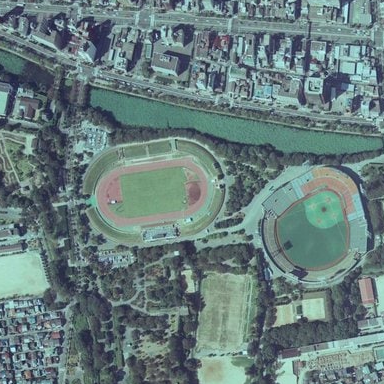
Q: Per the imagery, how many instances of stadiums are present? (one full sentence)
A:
The count of stadiums comes to 2.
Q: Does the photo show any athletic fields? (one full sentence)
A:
Yes, the frame does contain an athletic field.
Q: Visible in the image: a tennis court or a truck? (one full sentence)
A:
I can see a tennis court in this picture.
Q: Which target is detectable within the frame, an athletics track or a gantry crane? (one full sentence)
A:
The one in the frame is an athletics track.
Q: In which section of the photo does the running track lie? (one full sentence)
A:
The running track is in the center part of the image.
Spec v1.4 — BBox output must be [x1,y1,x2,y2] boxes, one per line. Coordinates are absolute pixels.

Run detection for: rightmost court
[302,291,327,322]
